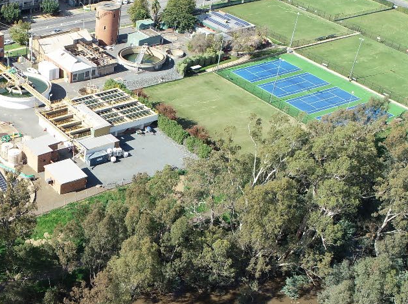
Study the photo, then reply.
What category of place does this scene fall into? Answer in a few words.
industrial area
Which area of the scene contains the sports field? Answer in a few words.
top right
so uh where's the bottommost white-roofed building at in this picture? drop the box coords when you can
[43,158,88,193]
